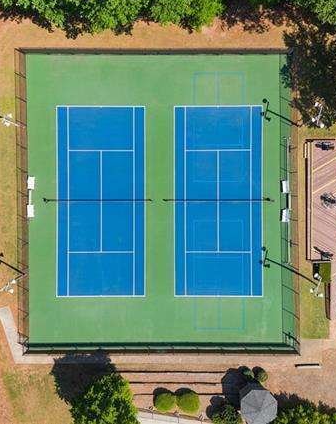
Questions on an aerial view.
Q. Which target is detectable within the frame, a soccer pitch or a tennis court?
tennis court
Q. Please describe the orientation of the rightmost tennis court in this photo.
vertically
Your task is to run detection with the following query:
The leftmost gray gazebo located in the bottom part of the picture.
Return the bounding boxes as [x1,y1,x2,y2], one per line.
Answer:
[238,382,276,424]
